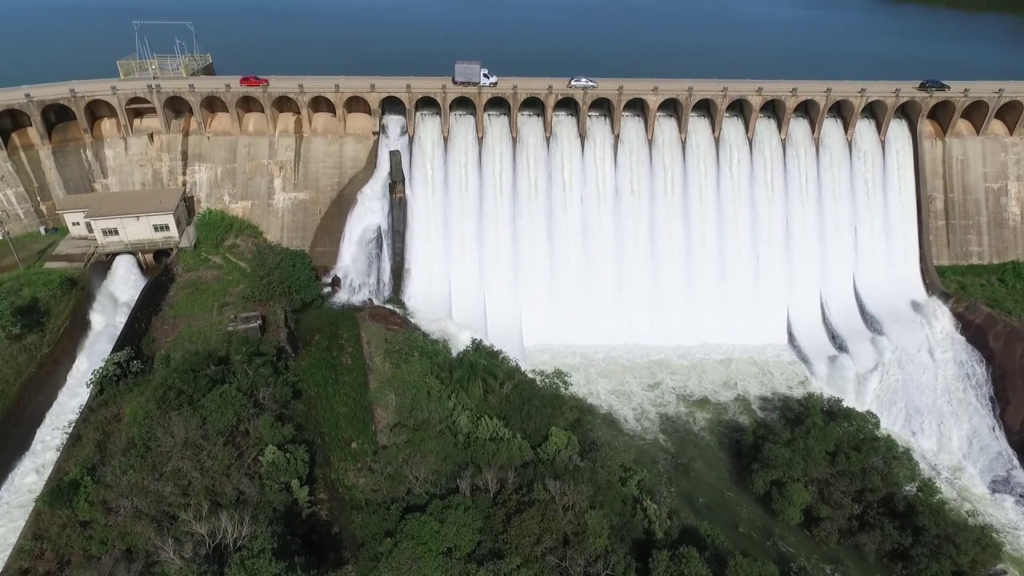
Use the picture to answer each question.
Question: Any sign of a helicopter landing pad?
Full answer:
No, there is no helicopter landing pad in the image.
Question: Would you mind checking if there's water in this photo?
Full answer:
Yes, the picture does contain water.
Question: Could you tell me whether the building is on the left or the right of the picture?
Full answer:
It is on the left.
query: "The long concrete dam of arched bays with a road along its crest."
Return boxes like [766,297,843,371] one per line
[0,73,1024,334]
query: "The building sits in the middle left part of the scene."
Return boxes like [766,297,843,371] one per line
[47,187,199,281]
